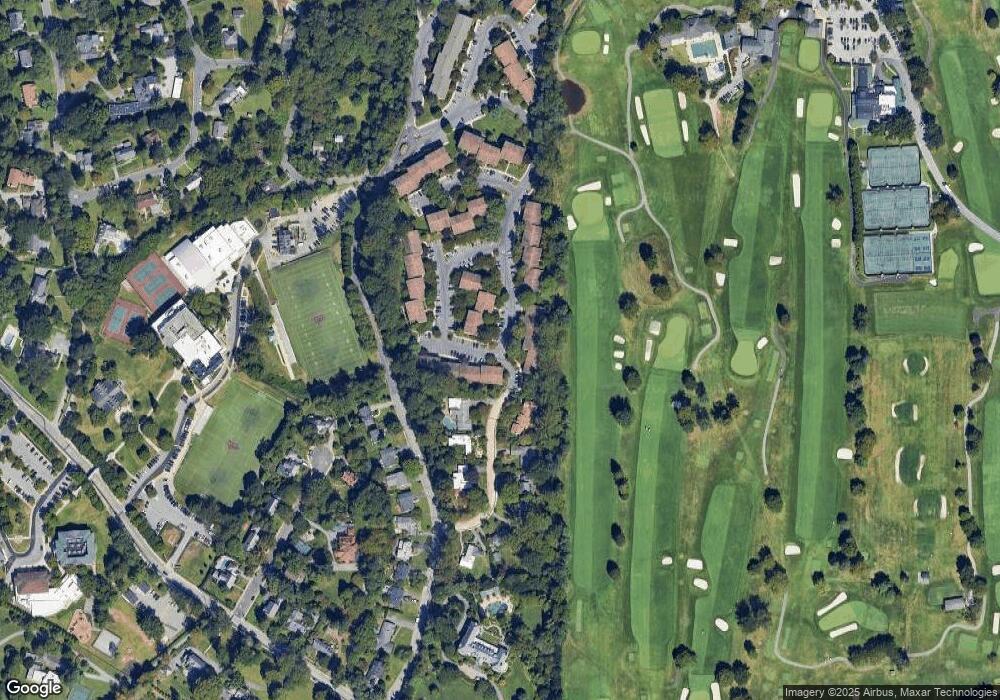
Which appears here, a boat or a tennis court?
tennis court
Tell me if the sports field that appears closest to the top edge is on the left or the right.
left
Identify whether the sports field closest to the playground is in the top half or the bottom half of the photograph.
bottom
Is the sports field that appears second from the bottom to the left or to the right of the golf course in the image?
on its left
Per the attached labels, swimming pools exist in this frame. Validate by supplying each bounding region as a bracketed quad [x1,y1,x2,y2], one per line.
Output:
[1,326,18,349]
[480,595,513,616]
[686,32,725,62]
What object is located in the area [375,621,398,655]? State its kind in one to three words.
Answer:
house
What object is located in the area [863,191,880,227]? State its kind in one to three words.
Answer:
tennis court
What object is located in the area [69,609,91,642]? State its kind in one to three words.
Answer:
playground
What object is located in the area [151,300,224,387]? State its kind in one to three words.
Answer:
building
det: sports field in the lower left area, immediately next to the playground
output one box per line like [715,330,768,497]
[105,603,156,664]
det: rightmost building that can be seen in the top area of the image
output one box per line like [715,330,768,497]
[849,64,902,129]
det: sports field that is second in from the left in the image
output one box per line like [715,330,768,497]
[174,375,284,506]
